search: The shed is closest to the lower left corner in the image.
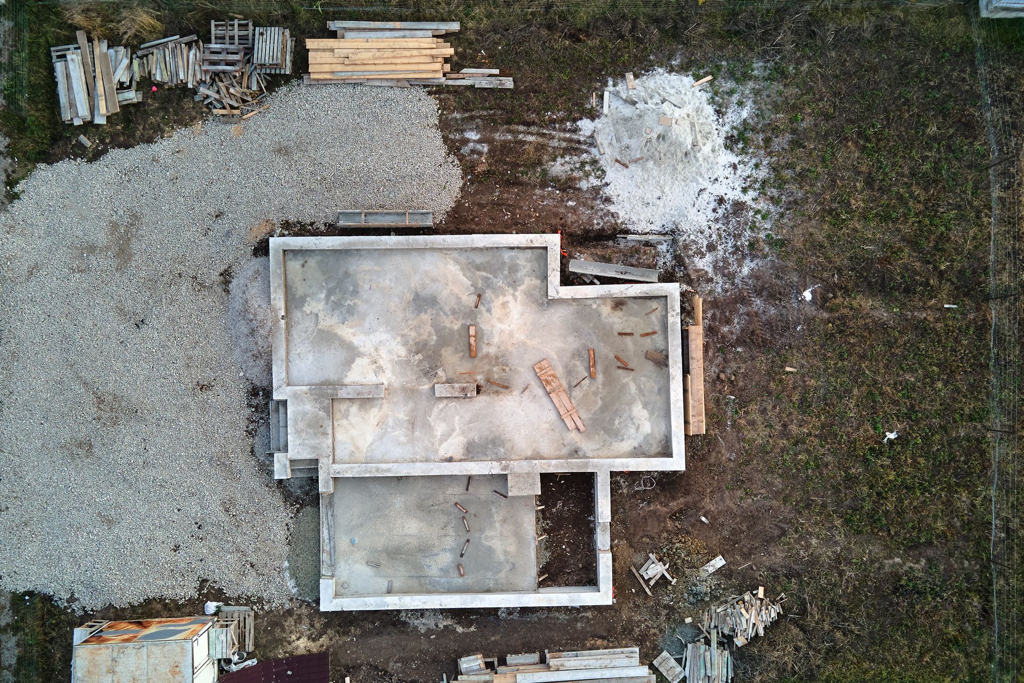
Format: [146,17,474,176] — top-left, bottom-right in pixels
[72,618,219,683]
